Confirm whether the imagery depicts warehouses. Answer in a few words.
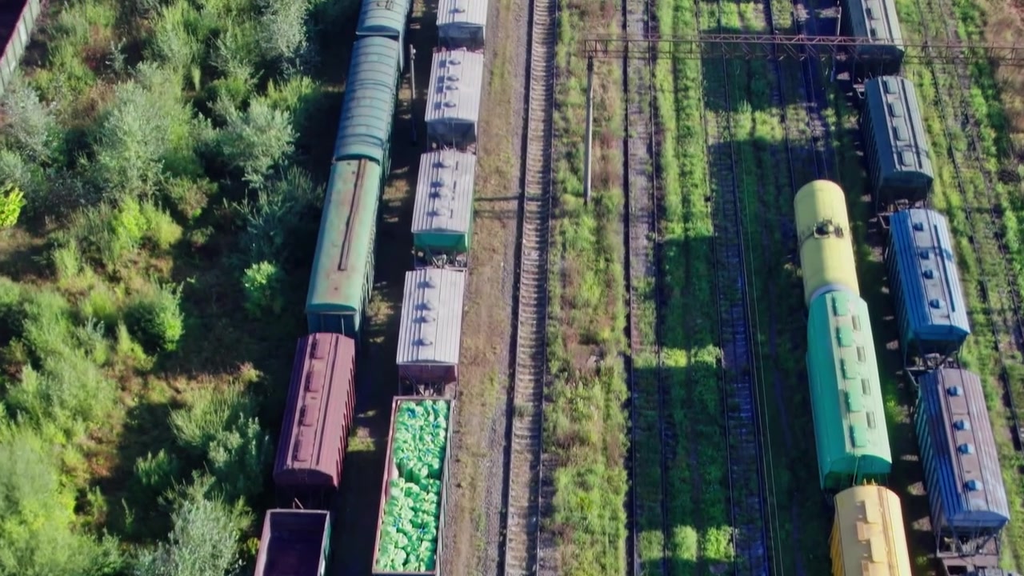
No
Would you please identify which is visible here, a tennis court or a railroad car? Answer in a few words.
railroad car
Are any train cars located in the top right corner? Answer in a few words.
Yes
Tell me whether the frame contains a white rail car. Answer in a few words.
Yes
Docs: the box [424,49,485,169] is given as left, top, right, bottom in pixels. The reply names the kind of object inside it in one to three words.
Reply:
rail car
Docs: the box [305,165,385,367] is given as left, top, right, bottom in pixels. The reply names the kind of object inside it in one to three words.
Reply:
rail car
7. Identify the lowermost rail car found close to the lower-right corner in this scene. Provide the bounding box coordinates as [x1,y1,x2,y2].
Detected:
[830,487,911,576]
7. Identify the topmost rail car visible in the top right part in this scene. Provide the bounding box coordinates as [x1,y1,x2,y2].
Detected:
[841,0,909,110]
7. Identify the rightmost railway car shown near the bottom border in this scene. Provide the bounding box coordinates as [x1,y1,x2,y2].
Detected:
[911,376,1009,576]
